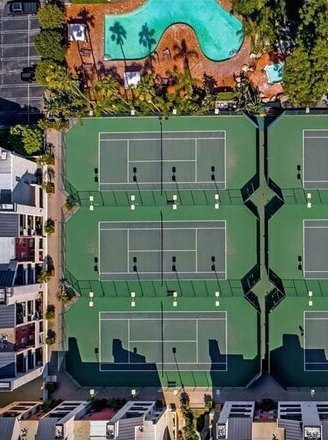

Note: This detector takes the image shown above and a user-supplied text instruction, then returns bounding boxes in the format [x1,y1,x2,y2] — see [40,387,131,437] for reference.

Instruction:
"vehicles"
[6,1,37,16]
[18,69,42,81]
